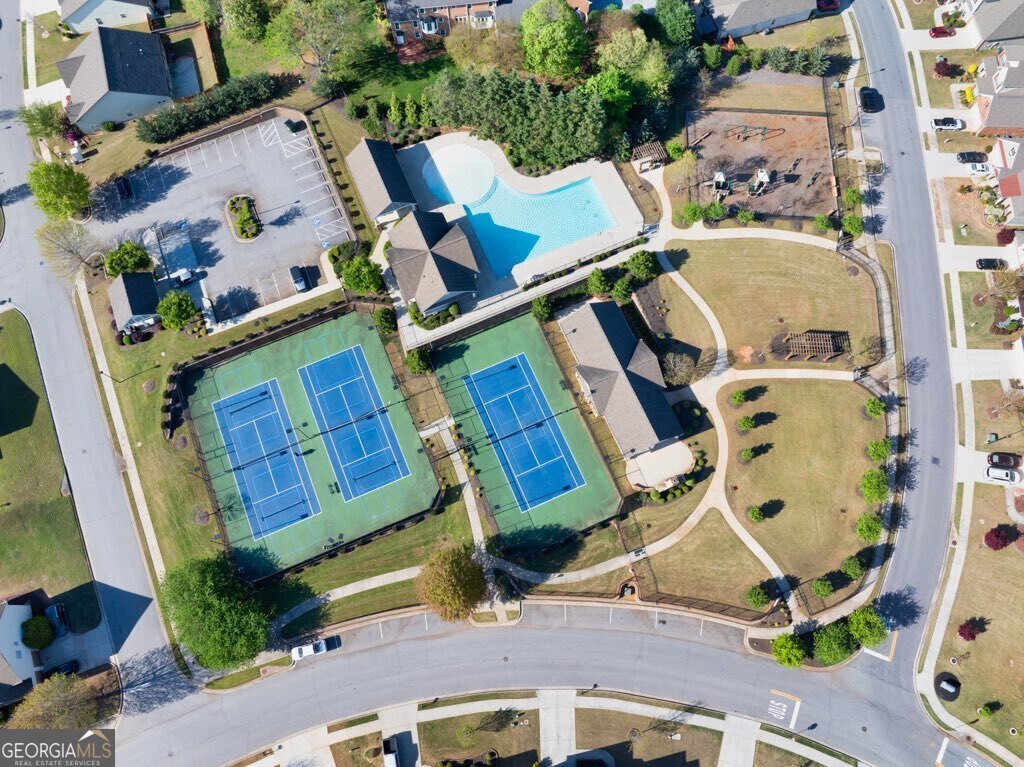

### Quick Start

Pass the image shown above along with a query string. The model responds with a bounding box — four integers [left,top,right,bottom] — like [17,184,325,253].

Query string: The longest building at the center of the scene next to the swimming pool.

[558,299,684,460]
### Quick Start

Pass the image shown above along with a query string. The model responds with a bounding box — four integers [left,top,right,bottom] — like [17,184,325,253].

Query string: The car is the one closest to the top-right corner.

[930,23,958,37]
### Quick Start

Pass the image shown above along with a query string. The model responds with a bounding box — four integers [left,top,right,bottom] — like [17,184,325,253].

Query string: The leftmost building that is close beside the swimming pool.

[347,139,418,225]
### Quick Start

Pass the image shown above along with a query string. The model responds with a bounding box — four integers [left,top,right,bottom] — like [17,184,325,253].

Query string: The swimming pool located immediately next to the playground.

[394,131,644,320]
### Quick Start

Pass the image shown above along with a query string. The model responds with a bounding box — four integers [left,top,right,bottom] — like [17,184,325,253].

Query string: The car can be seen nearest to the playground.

[861,87,876,111]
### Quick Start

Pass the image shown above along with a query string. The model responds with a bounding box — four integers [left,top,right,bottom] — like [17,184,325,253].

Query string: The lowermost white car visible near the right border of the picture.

[985,468,1022,486]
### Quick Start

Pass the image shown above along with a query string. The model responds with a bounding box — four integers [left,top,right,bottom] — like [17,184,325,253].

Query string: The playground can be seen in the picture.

[694,106,841,220]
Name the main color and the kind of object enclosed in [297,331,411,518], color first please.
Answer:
blue tennis court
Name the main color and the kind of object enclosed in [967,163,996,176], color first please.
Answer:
white vehicle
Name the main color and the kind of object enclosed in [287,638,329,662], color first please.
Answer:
white truck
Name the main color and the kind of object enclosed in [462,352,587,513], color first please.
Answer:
blue tennis court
